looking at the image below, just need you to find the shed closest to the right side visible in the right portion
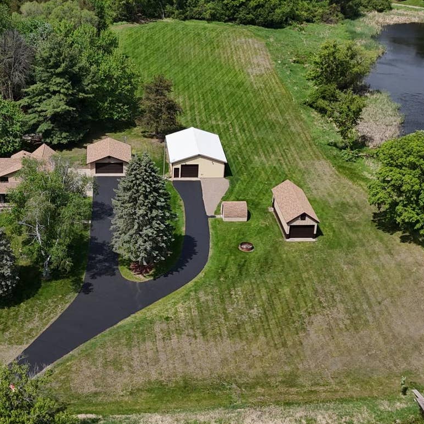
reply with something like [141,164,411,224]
[273,182,320,239]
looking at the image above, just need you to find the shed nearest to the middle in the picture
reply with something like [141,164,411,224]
[222,204,248,221]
